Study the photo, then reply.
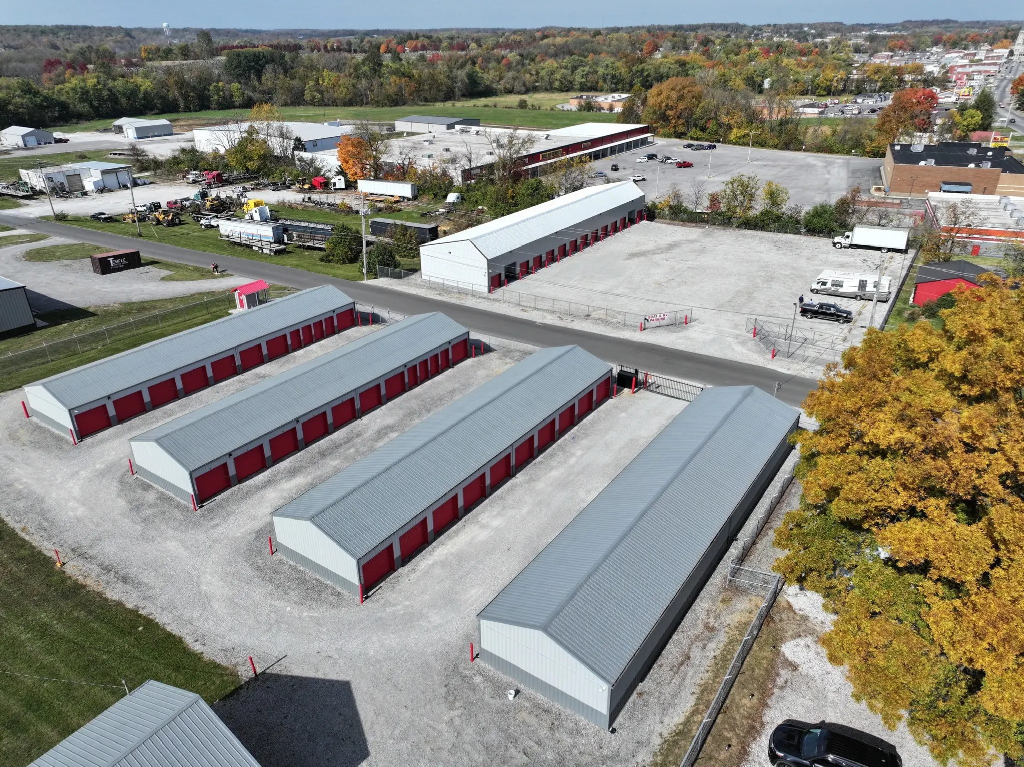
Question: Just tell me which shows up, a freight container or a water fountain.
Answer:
freight container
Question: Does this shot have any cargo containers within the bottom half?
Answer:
No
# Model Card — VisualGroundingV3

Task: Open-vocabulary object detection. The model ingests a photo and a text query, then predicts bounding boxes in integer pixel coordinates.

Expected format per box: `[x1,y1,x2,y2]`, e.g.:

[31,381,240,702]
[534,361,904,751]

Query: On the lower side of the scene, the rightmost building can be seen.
[475,385,800,729]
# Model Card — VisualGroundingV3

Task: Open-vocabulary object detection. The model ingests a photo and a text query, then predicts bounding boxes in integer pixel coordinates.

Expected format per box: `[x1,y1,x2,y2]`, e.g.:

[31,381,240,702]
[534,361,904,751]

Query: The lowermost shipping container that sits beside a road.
[91,246,141,274]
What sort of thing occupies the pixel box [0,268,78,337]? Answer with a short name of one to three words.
barn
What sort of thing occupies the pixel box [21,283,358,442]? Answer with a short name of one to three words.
building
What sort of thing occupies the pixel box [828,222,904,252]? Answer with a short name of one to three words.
truck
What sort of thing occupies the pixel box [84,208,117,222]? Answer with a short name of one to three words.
vehicle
